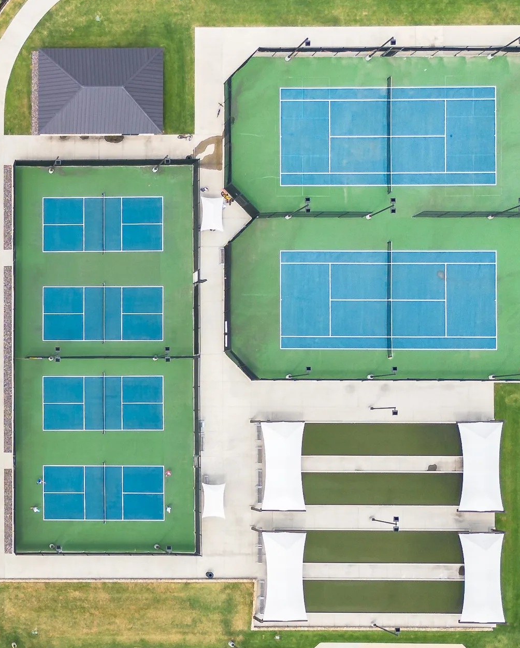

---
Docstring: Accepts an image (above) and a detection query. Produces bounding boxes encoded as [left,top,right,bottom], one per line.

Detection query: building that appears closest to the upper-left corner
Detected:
[37,47,164,137]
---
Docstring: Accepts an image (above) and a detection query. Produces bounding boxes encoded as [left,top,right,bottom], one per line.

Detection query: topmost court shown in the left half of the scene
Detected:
[42,197,163,252]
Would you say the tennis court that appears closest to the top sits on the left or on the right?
right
